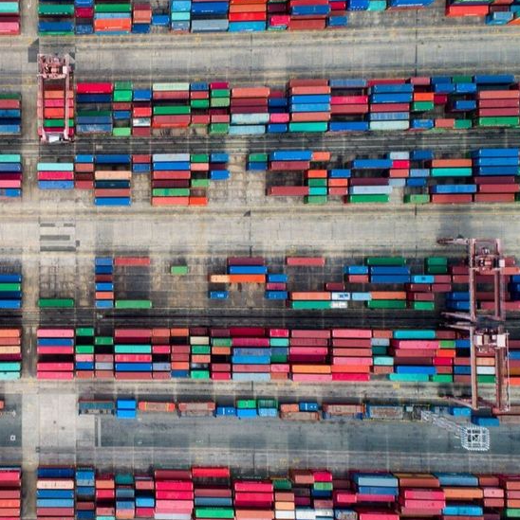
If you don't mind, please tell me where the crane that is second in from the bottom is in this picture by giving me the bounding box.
[430,237,506,320]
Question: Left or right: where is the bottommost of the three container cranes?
right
